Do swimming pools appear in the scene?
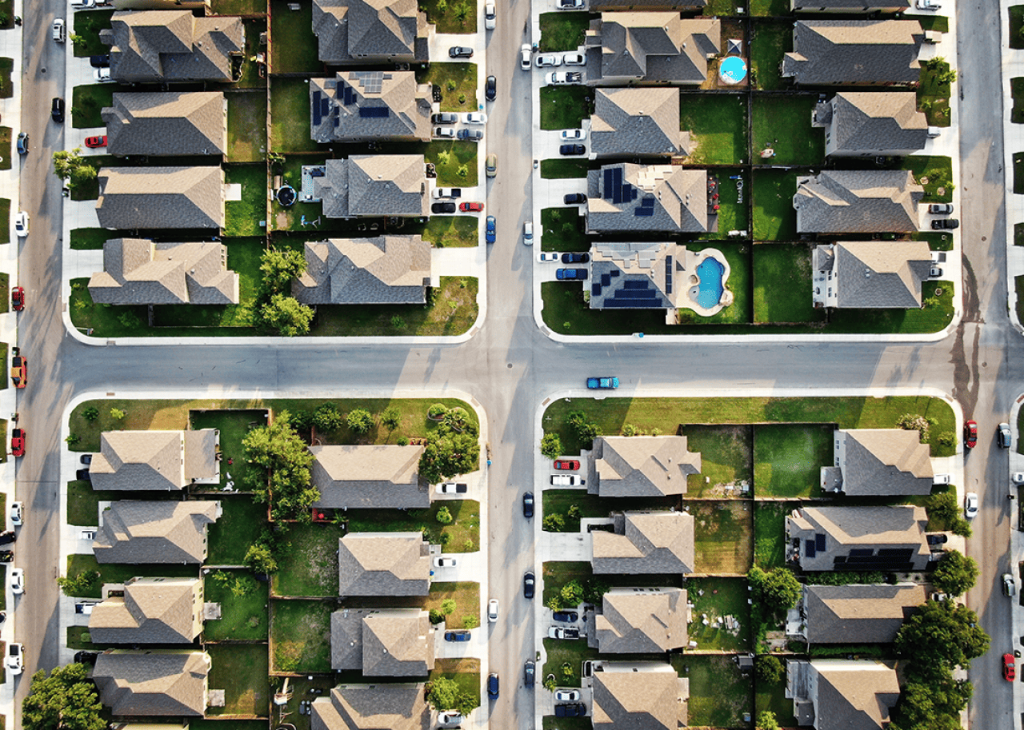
Yes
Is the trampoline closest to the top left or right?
left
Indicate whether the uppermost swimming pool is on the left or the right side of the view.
right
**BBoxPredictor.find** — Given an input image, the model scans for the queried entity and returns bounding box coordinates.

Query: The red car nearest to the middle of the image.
[554,459,580,471]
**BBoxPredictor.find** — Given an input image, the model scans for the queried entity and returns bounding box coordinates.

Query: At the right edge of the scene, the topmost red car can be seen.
[963,421,978,447]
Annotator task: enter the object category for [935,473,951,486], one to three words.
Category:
vehicle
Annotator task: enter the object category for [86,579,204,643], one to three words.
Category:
house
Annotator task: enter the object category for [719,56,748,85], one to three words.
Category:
swimming pool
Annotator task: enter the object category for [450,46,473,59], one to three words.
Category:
vehicle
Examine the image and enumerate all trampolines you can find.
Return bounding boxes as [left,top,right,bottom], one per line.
[275,183,297,205]
[275,720,296,730]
